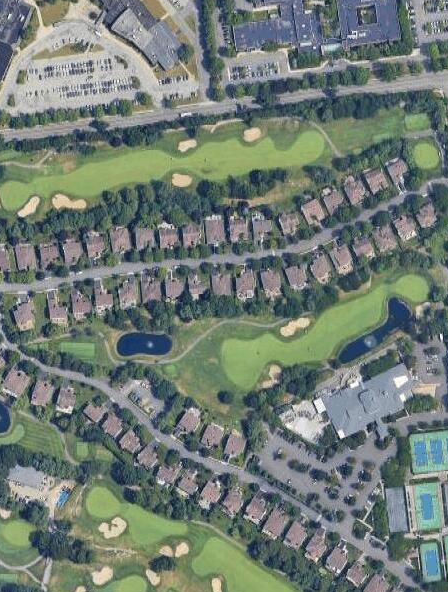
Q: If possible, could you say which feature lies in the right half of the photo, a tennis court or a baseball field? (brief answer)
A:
tennis court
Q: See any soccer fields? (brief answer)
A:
No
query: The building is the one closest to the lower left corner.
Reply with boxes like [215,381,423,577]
[7,464,43,486]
